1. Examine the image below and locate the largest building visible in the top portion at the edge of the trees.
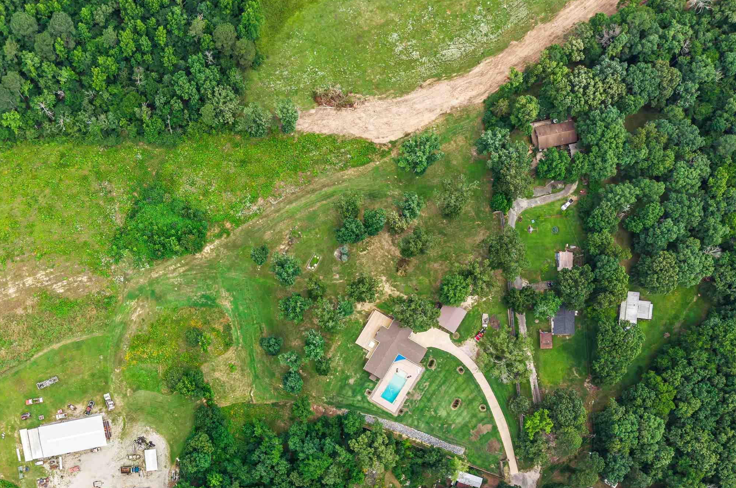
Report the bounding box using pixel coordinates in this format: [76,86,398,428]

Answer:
[528,120,578,150]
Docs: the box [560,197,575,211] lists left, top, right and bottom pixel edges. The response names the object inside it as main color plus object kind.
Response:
white vehicle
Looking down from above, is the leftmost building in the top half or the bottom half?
bottom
